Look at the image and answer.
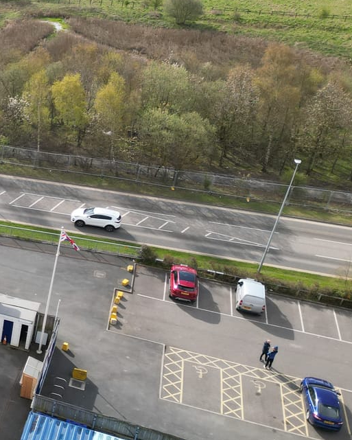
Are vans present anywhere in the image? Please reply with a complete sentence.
Yes, a van is visible in the scene.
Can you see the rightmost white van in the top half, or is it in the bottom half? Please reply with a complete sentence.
The bottom half of the photo is where the rightmost white van is.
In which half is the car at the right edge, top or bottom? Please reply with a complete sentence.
The car at the right edge sits in the bottom half of the picture.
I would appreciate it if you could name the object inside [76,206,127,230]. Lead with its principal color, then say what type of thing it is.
white car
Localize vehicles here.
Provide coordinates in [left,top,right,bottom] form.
[76,206,127,230]
[174,269,203,305]
[237,279,273,318]
[305,379,352,437]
